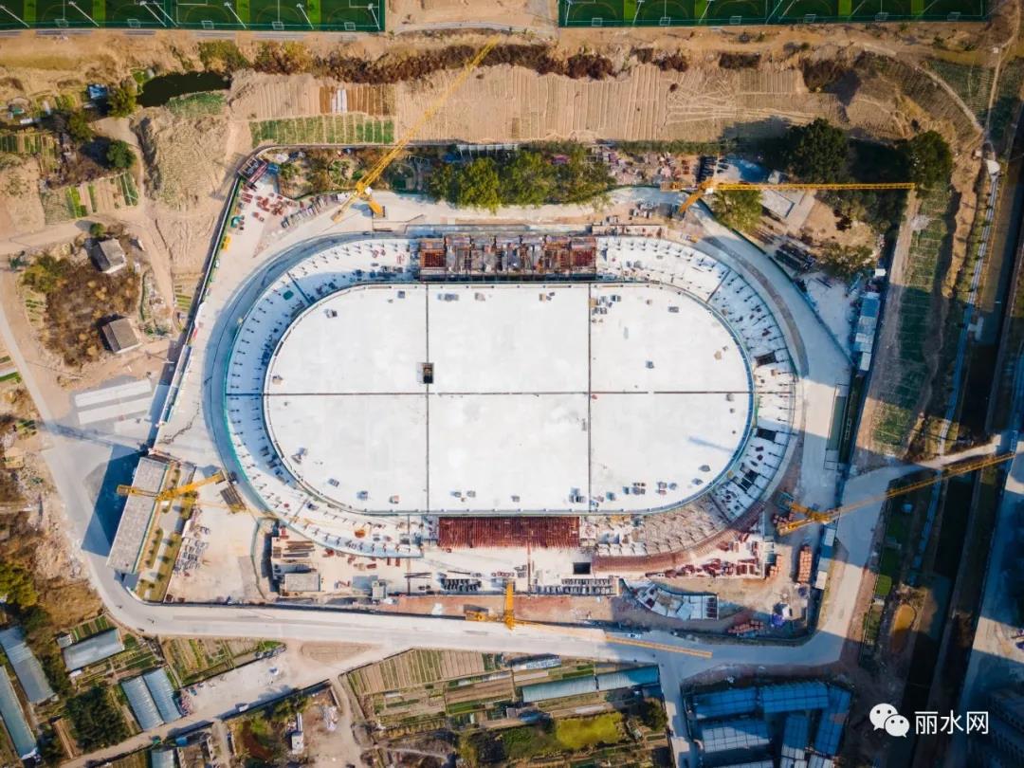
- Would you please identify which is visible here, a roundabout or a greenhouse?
greenhouse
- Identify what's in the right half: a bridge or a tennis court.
bridge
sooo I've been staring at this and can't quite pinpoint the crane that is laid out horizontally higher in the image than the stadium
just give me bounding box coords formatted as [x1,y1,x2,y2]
[658,181,919,219]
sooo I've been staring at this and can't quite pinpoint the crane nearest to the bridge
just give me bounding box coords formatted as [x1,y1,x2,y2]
[775,452,1018,534]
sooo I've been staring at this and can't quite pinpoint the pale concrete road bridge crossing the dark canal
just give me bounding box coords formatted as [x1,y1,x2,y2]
[925,429,1016,470]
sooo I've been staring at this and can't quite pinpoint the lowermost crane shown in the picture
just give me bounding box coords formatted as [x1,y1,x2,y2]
[464,572,714,659]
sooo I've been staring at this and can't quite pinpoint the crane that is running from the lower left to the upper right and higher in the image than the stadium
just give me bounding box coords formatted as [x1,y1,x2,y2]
[331,39,499,225]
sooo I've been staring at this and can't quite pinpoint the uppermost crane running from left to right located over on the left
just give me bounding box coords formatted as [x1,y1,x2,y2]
[115,466,367,535]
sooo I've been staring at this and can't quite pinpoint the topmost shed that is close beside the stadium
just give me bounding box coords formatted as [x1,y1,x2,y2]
[163,347,193,419]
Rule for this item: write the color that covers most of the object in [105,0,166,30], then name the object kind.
green soccer field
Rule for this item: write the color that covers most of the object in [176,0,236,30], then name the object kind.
green soccer field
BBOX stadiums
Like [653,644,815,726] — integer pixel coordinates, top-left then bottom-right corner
[223,234,799,571]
